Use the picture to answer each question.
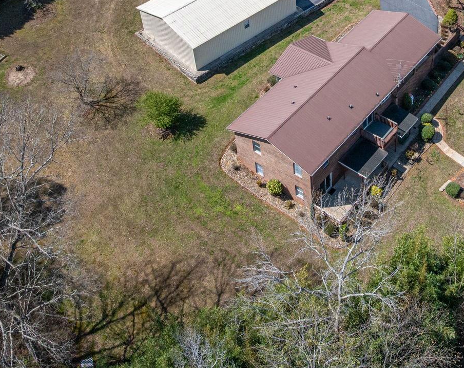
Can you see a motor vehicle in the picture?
No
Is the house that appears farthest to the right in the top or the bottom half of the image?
top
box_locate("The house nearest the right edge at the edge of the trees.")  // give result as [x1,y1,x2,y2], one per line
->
[226,10,442,205]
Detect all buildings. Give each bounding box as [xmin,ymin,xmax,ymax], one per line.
[226,10,442,205]
[136,0,298,71]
